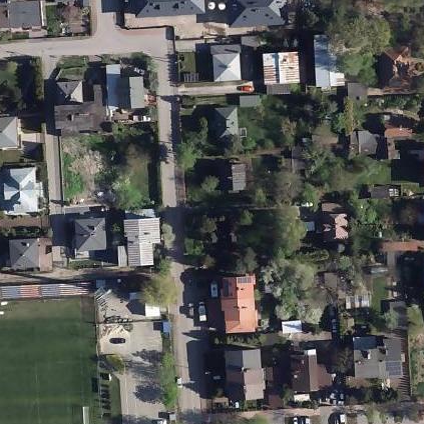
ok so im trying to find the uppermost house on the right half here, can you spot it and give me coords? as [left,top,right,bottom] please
[225,0,289,28]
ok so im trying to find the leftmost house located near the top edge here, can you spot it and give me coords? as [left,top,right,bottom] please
[0,1,48,35]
